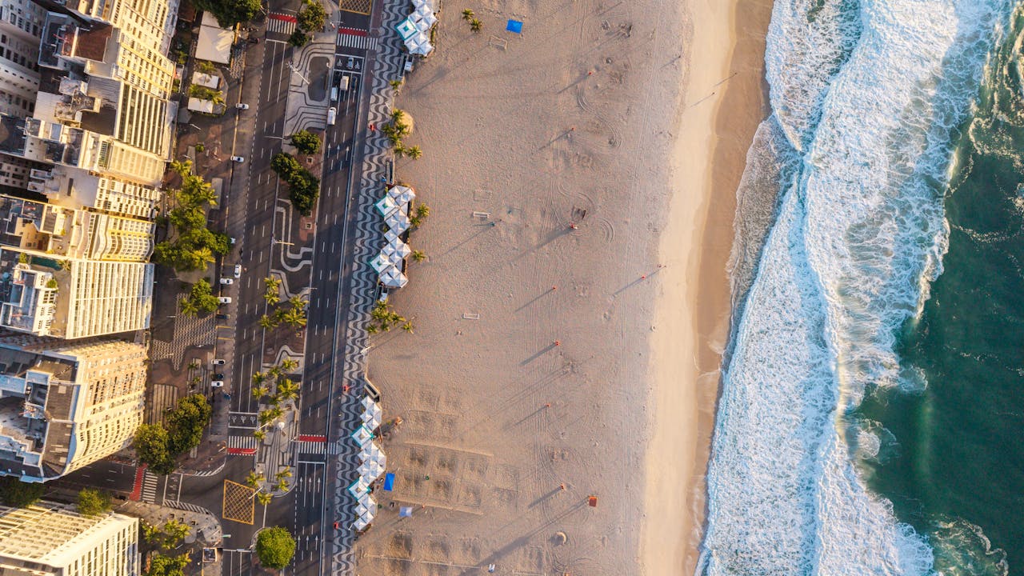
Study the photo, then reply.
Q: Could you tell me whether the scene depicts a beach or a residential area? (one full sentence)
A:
This image shows a beach.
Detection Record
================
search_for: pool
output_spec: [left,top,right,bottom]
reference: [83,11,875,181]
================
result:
[30,257,62,270]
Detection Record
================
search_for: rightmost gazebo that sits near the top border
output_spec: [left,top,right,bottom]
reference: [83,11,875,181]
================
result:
[506,19,523,34]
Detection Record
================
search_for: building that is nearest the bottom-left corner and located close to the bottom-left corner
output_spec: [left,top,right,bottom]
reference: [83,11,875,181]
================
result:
[0,497,140,576]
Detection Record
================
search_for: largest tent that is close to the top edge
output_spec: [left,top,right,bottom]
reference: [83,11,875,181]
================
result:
[195,26,235,67]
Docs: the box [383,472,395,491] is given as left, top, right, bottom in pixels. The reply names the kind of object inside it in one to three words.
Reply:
gazebo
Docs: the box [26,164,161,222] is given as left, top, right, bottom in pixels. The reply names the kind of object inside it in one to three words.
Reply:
building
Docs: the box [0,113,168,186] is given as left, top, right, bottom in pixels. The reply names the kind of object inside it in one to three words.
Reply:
building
